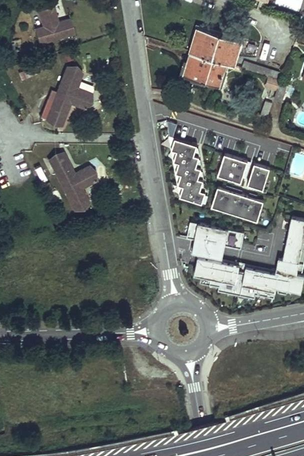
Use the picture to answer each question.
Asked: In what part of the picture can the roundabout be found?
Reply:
bottom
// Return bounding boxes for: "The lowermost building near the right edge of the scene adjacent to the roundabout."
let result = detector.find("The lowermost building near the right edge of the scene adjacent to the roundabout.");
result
[186,220,304,302]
